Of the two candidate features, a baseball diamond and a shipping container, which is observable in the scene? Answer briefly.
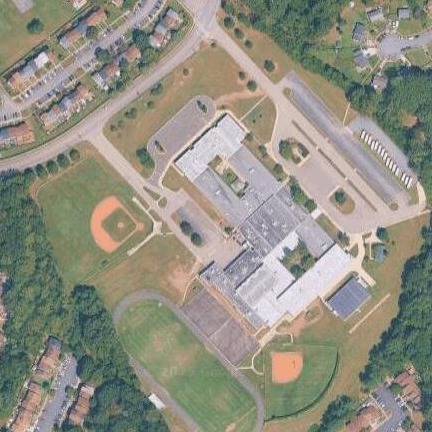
baseball diamond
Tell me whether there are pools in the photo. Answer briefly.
No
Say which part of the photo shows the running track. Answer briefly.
bottom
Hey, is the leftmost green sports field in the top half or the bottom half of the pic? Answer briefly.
bottom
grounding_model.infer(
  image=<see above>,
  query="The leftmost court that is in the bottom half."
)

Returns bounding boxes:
[183,288,232,337]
